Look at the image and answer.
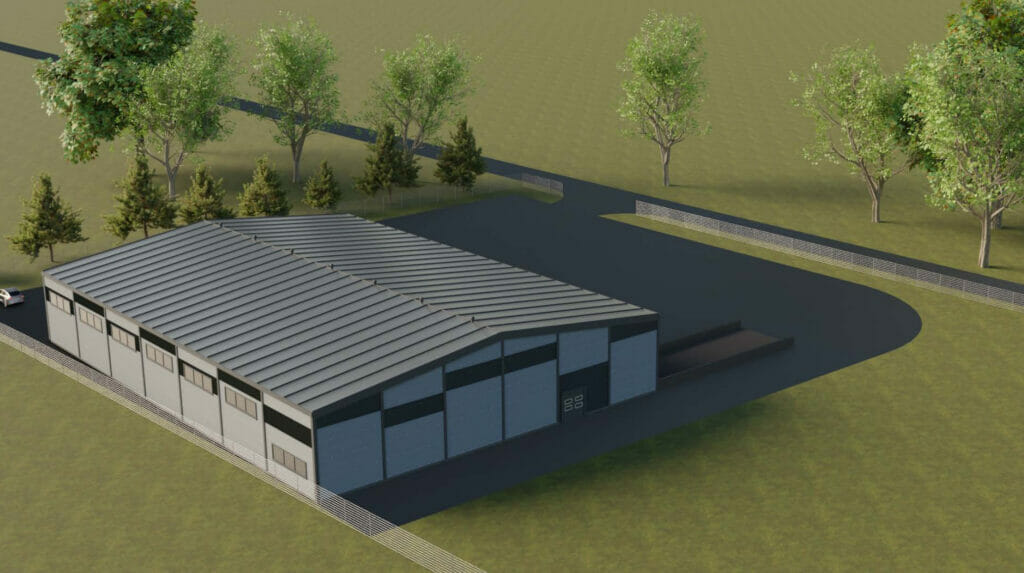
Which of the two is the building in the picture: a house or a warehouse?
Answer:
warehouse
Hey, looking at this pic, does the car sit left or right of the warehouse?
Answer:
to its left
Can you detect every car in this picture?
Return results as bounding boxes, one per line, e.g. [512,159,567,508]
[0,286,23,308]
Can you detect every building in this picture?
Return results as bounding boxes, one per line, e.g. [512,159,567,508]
[41,213,661,502]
